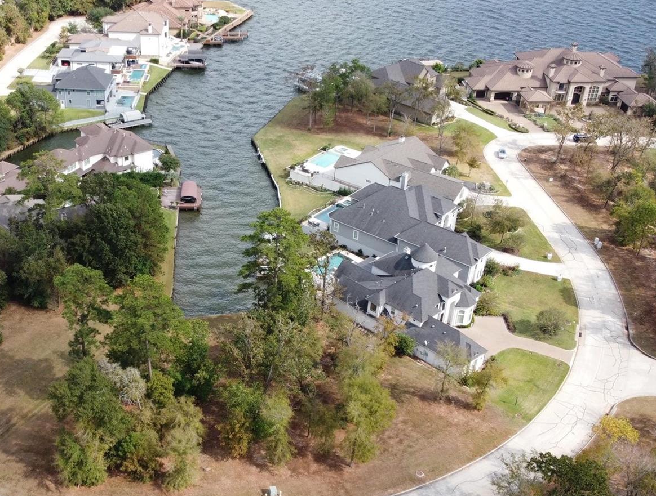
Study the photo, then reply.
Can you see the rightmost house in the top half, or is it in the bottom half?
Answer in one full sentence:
The rightmost house sits in the top half of the picture.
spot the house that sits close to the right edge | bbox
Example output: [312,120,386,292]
[453,36,656,117]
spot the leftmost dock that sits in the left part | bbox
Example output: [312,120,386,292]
[108,113,152,132]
